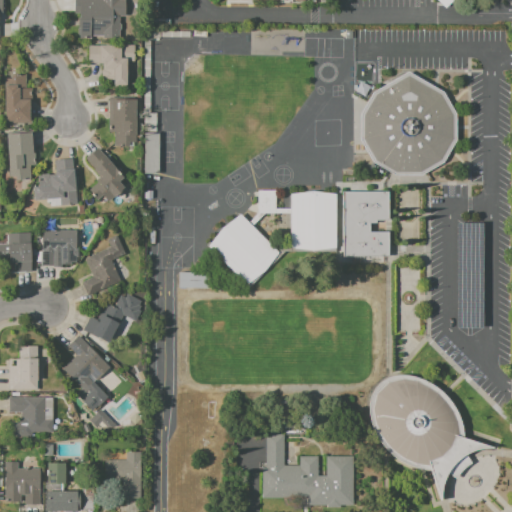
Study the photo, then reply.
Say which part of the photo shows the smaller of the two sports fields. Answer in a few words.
top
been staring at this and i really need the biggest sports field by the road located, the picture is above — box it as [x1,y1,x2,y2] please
[178,290,388,392]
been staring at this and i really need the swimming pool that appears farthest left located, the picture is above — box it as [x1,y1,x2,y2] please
[56,442,84,460]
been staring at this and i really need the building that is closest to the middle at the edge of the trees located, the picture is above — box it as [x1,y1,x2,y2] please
[208,214,280,284]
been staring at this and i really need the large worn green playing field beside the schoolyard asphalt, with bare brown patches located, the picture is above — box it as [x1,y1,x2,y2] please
[184,55,316,183]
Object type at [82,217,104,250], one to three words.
swimming pool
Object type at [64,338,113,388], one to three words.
house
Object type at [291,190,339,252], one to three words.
building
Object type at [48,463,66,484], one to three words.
house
